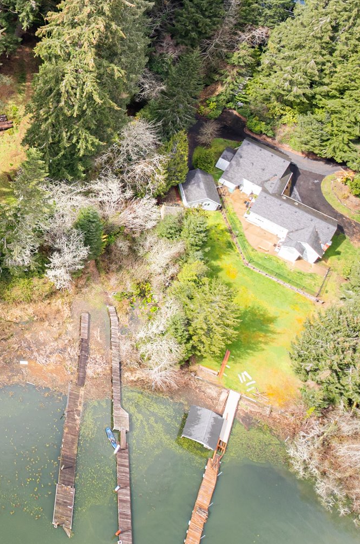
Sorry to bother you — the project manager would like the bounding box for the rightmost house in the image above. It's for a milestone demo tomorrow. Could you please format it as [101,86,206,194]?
[212,136,338,263]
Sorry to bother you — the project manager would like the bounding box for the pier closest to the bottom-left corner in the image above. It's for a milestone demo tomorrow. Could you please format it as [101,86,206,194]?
[52,484,75,538]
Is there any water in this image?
Yes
